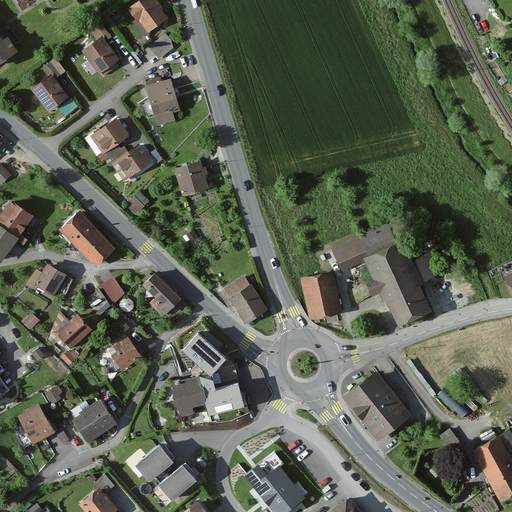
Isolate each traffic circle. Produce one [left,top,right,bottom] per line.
[266,326,342,402]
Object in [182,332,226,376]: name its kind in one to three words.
building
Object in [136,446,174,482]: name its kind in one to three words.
house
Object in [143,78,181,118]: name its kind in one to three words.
house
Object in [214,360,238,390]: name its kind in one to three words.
building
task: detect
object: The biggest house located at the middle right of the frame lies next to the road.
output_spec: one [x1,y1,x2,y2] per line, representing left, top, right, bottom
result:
[365,246,439,330]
